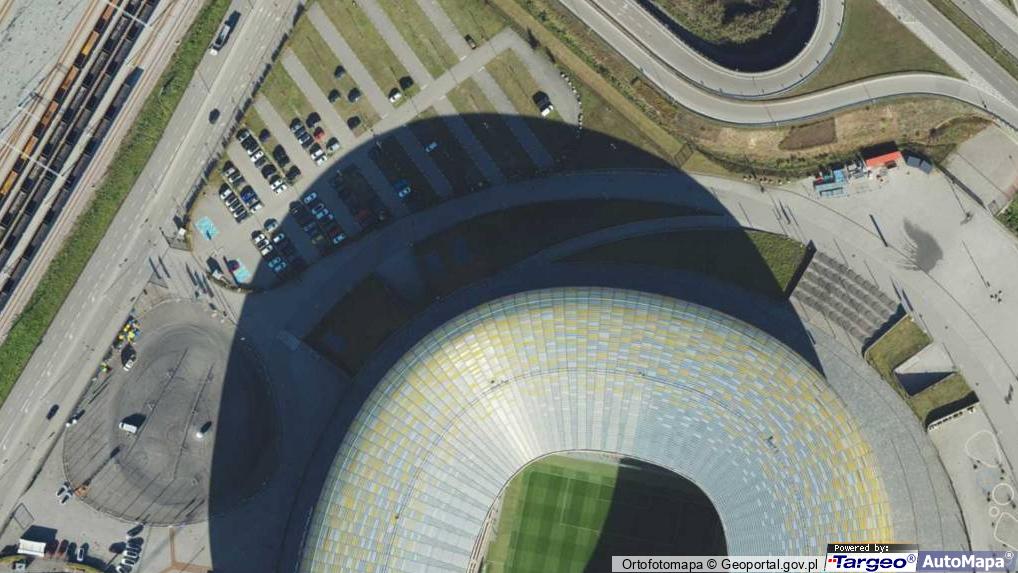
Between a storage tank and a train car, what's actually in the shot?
train car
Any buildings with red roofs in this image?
Yes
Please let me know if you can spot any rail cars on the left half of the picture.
Yes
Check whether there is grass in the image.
Yes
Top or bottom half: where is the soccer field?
bottom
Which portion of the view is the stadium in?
bottom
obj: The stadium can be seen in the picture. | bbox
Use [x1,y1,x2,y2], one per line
[296,284,896,573]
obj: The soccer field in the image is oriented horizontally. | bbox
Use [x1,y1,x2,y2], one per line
[487,461,730,573]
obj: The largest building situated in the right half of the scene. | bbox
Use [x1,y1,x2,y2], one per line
[867,150,903,168]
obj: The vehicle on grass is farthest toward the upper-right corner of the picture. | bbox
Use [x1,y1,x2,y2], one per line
[538,100,555,114]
